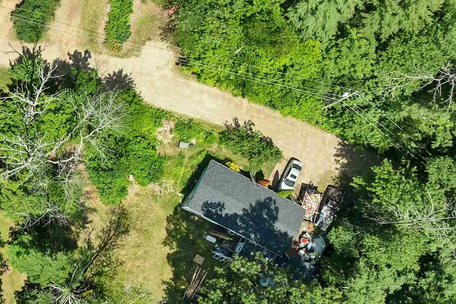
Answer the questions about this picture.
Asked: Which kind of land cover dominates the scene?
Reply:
trees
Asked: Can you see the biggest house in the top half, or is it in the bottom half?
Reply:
bottom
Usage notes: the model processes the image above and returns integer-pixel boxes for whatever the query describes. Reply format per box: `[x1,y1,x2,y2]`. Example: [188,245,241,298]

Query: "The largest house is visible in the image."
[183,159,307,256]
